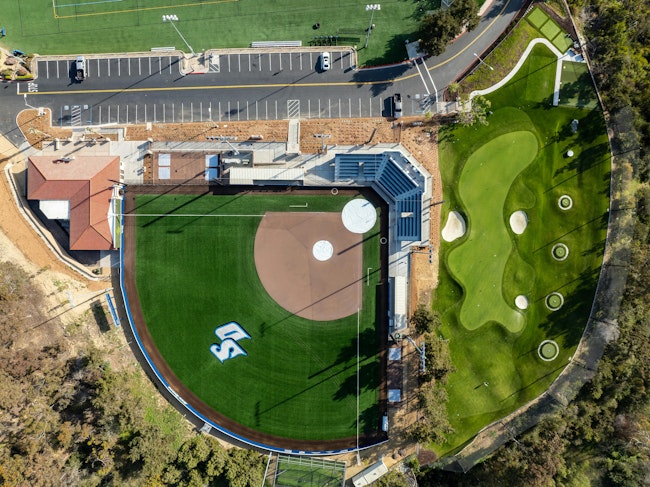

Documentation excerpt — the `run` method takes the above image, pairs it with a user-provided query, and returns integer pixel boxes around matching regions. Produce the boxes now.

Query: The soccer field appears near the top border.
[0,0,479,68]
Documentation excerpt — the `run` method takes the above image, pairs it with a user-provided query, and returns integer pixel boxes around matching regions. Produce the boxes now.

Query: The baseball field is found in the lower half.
[124,186,388,449]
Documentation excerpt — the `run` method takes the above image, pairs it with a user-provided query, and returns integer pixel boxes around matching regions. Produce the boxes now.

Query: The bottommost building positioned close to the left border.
[27,156,125,250]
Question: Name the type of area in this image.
sports ground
